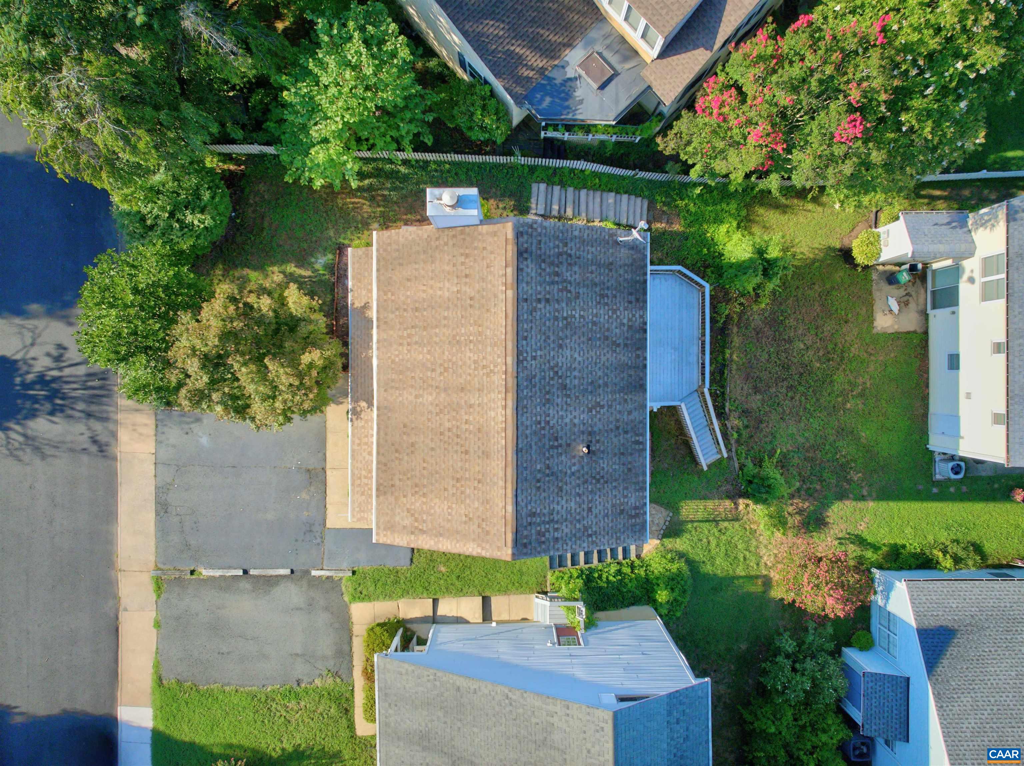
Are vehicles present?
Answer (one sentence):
No, the photo shows no vehicle.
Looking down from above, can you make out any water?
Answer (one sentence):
No, water can't be seen anywhere here.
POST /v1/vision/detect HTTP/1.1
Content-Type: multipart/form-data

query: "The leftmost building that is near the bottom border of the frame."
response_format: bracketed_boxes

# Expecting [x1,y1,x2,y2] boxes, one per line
[374,603,710,766]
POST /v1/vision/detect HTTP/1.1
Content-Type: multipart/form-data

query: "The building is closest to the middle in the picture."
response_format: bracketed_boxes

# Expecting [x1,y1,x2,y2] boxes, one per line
[341,215,653,561]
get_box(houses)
[374,603,710,766]
[398,0,762,141]
[922,201,1024,469]
[341,215,653,561]
[865,565,1024,766]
